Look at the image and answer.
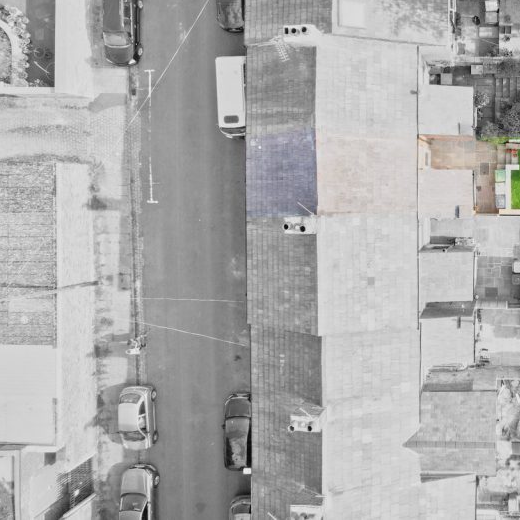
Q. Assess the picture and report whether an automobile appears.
Yes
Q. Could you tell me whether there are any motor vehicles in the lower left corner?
Yes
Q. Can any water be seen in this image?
No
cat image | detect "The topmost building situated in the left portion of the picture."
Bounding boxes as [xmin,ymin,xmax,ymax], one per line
[0,162,94,286]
